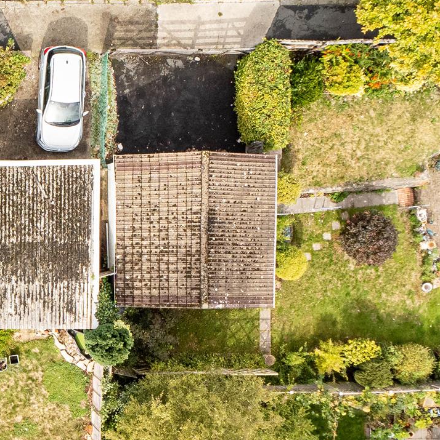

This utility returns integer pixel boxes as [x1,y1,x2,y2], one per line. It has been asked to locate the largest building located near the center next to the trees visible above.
[99,151,279,310]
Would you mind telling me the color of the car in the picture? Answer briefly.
white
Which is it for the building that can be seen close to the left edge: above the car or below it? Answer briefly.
below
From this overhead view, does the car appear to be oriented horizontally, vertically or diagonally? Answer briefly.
vertically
